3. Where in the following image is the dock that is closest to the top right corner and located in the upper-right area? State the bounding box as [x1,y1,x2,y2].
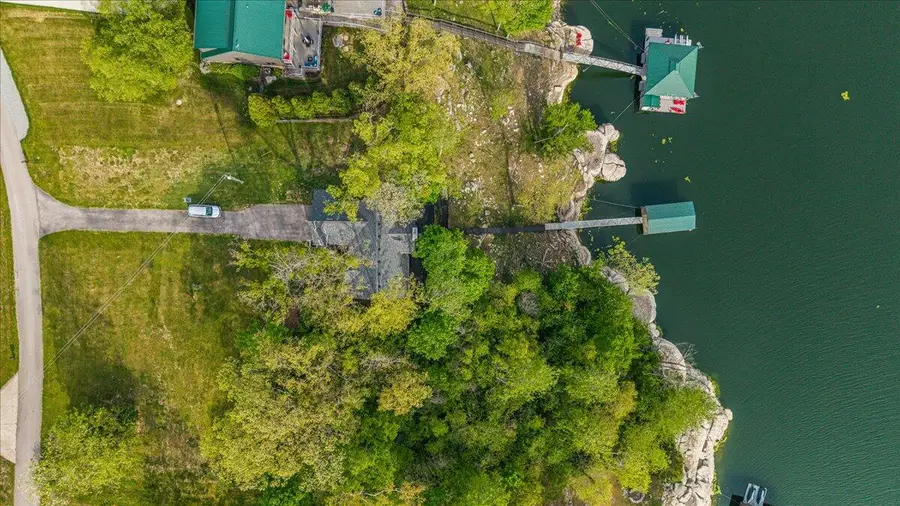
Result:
[635,29,702,114]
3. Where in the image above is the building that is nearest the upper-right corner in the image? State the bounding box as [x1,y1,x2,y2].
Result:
[640,201,696,235]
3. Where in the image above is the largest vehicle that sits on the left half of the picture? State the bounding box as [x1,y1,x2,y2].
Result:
[186,203,220,219]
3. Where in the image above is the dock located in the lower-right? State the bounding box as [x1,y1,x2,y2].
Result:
[731,483,780,506]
